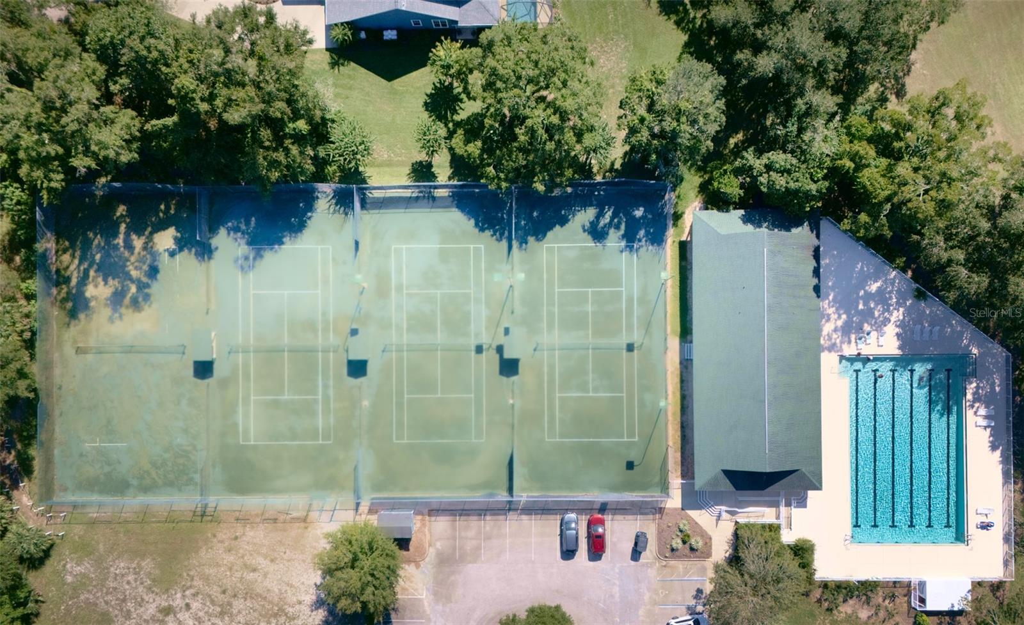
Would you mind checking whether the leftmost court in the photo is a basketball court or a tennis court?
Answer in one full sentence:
It looks like the leftmost court is a tennis court.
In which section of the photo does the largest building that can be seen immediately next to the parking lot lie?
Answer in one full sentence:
Look in the right portion of the view to spot the largest building that can be seen immediately next to the parking lot.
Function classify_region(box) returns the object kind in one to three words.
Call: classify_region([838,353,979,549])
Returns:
swimming pool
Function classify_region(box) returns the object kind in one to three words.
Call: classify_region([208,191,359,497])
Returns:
tennis court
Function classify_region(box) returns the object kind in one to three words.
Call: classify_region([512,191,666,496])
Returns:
tennis court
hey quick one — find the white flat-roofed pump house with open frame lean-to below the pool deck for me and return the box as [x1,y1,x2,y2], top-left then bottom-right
[899,573,971,610]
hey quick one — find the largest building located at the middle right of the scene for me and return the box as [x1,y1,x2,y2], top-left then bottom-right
[691,210,822,491]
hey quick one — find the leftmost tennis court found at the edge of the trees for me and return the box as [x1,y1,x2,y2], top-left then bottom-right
[53,191,208,497]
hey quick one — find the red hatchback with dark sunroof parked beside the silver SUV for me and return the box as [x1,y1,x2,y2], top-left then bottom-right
[588,514,607,553]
